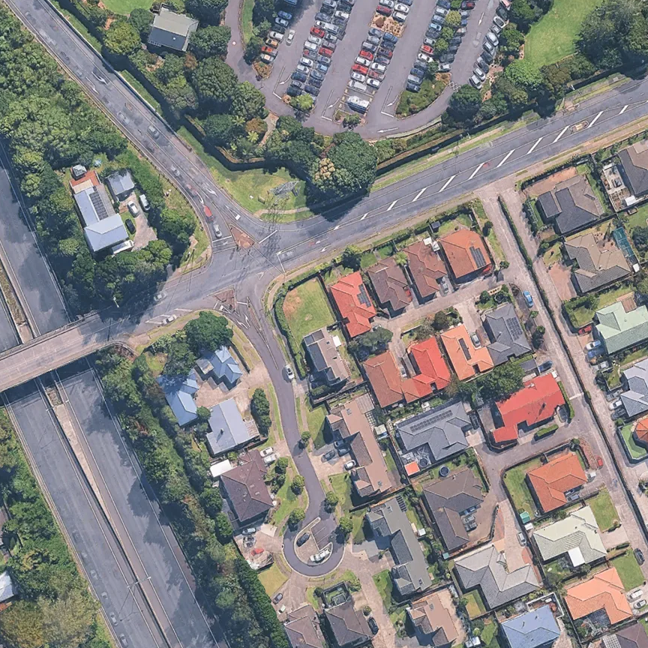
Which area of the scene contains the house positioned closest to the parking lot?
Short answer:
top left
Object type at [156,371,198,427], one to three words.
house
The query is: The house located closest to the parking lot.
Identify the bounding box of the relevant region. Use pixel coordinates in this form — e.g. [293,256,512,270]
[148,4,199,53]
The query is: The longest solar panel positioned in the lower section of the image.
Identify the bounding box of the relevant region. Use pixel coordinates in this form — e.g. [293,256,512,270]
[410,410,452,432]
